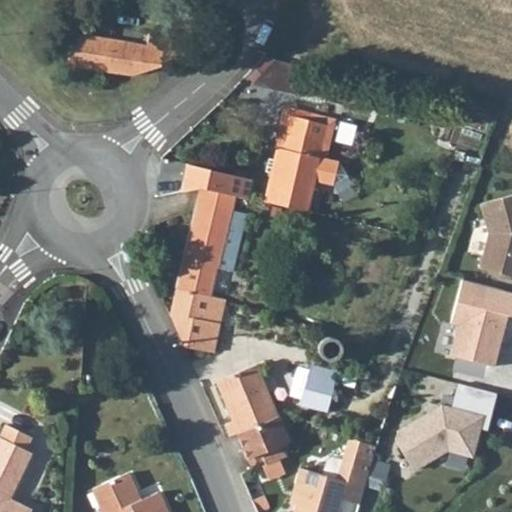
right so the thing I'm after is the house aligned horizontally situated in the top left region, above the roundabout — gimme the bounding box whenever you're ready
[68,36,164,76]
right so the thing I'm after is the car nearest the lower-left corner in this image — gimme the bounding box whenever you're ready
[12,414,36,430]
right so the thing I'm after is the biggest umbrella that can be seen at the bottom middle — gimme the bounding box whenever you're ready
[274,387,288,400]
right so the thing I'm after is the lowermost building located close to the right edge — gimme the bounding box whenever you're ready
[396,384,498,472]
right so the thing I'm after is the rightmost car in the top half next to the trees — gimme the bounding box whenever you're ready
[255,22,271,45]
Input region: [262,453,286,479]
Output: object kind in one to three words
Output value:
house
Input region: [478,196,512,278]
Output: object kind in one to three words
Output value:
house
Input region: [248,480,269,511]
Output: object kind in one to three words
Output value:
shed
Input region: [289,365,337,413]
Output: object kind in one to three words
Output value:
building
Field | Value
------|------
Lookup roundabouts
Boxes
[13,128,150,280]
